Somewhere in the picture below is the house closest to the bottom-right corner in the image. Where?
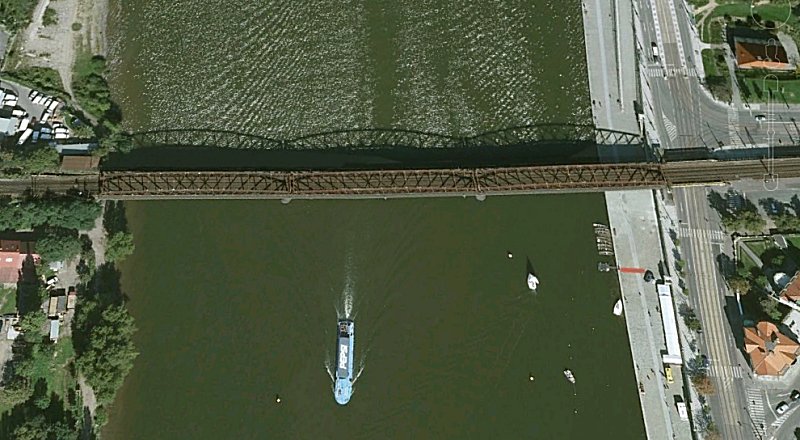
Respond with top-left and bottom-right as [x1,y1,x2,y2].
[741,321,799,374]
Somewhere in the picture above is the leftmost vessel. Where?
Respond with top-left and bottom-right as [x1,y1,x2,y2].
[334,319,354,405]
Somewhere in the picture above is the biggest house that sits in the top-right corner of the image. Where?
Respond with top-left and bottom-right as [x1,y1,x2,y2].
[735,39,790,69]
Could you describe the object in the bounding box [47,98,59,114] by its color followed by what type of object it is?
white vehicle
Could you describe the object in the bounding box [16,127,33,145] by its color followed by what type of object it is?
white vehicle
